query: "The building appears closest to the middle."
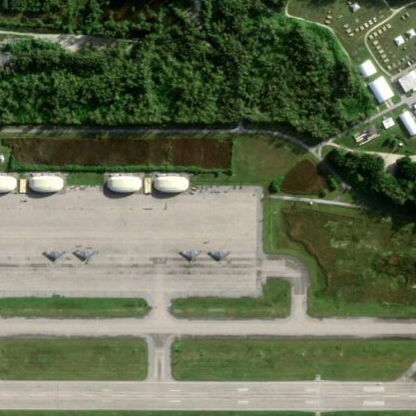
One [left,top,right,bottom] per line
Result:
[154,174,188,192]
